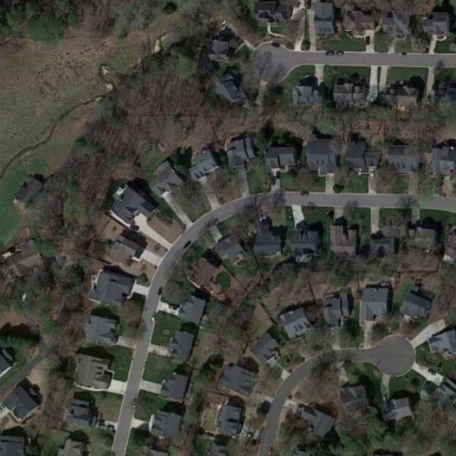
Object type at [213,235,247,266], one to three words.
house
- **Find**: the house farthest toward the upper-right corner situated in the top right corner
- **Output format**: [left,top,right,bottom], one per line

[424,7,451,34]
